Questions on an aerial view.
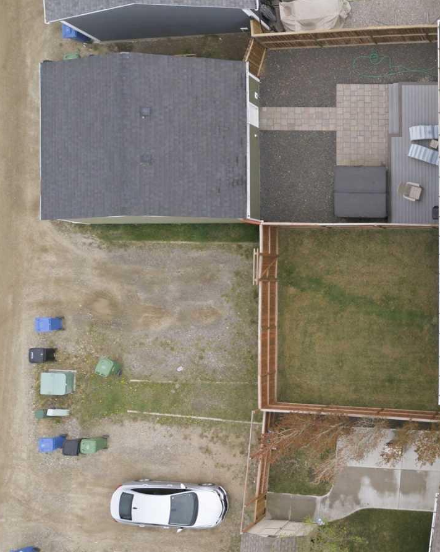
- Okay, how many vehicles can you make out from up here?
1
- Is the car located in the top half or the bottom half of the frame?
bottom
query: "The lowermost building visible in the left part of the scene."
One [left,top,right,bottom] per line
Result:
[38,50,260,224]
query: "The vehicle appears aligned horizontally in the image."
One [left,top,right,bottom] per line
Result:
[111,477,233,537]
